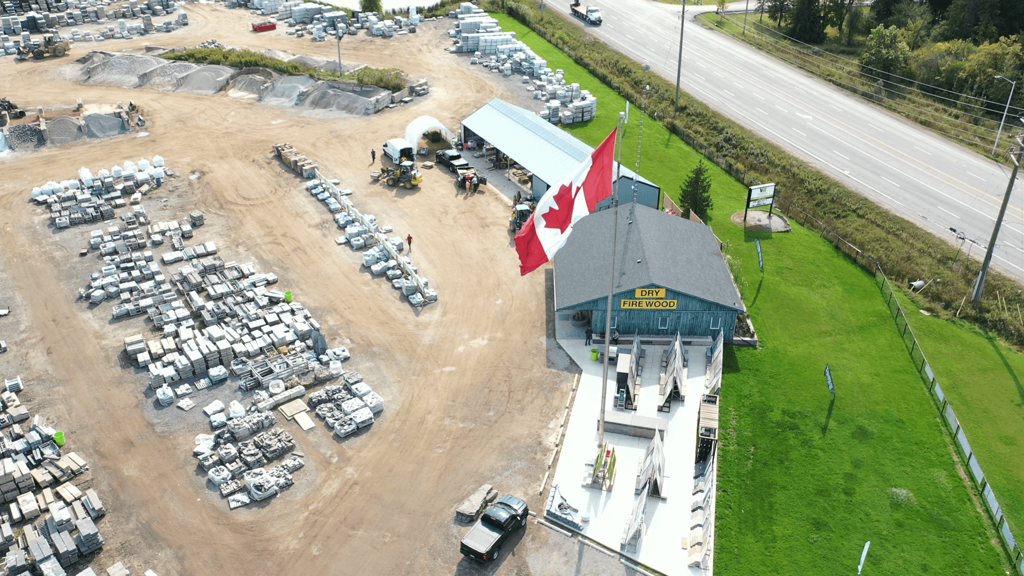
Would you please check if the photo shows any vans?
Yes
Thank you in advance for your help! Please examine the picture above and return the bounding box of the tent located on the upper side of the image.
[401,113,452,153]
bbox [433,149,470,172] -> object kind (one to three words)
truck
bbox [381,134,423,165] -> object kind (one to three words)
van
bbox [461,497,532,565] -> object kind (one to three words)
truck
